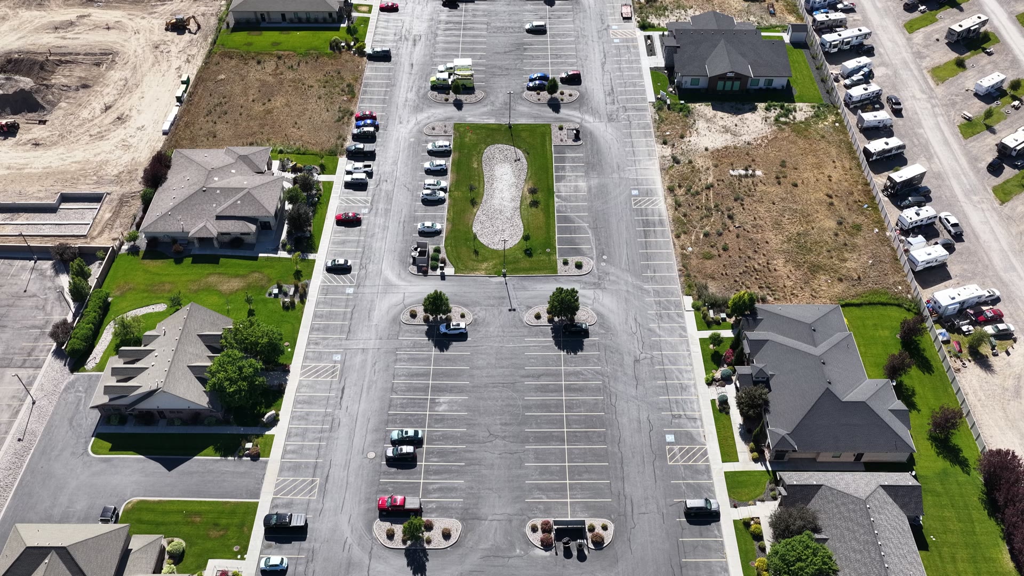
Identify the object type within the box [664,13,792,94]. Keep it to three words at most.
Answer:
building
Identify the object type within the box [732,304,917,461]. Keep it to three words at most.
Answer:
building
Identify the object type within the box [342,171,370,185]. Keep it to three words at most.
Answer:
vehicle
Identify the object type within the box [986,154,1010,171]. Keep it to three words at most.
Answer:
car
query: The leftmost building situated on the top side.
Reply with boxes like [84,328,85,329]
[139,147,286,250]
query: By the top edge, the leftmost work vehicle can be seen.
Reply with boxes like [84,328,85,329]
[161,13,205,33]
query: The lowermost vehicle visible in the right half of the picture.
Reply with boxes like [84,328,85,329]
[682,496,721,515]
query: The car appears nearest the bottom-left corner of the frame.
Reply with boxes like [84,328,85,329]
[98,495,122,523]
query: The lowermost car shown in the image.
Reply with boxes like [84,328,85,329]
[257,552,292,570]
